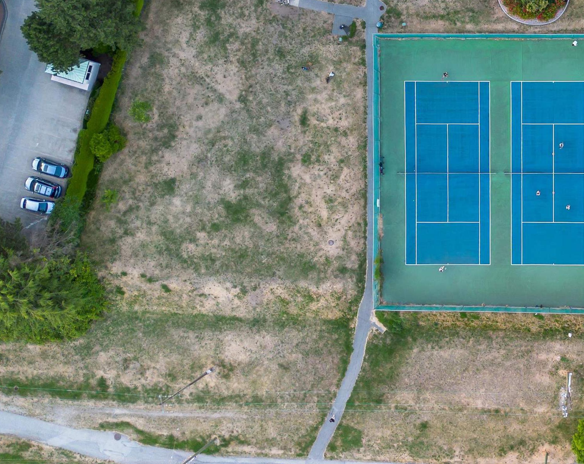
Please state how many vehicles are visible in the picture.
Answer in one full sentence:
There are 3 vehicles in the image.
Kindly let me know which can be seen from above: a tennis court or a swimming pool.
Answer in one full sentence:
Looking from above, you can make out a tennis court.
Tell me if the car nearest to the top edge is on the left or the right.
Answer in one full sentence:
You can find the car nearest to the top edge on the left side of the picture.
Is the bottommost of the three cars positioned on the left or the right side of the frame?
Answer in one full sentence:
The bottommost of the three cars is on the left side of the image.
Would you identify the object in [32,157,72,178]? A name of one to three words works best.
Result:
car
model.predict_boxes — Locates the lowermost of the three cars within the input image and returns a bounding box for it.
[19,196,57,216]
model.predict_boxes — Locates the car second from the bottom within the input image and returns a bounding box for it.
[25,176,66,198]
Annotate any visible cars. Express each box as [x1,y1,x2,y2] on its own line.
[25,176,66,198]
[19,196,57,216]
[32,157,72,178]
